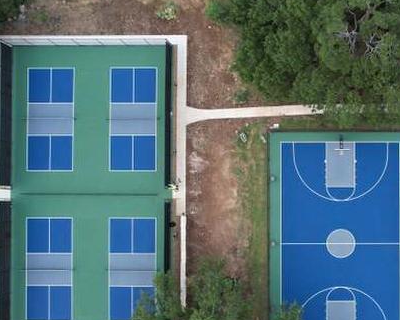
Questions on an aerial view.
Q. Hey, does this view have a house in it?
No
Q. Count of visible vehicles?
0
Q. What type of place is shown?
sports ground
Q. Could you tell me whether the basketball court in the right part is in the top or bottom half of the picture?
bottom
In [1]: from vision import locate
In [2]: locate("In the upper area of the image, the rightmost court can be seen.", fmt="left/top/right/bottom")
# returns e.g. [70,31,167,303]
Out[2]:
[110,68,157,171]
